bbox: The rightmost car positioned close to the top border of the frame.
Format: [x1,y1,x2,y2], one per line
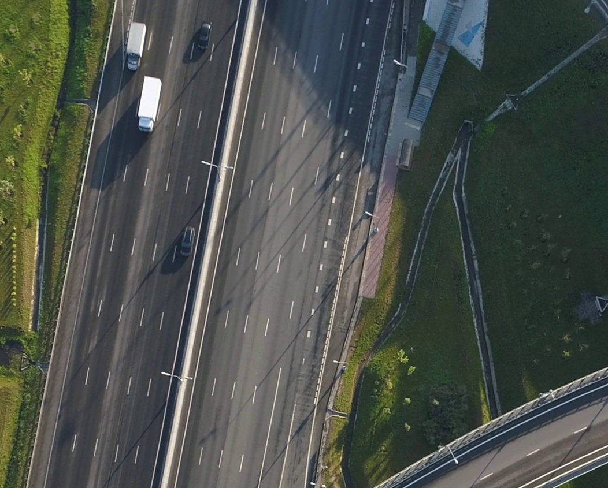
[196,21,210,48]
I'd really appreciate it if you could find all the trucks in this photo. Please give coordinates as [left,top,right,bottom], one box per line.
[134,72,160,131]
[122,17,144,70]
